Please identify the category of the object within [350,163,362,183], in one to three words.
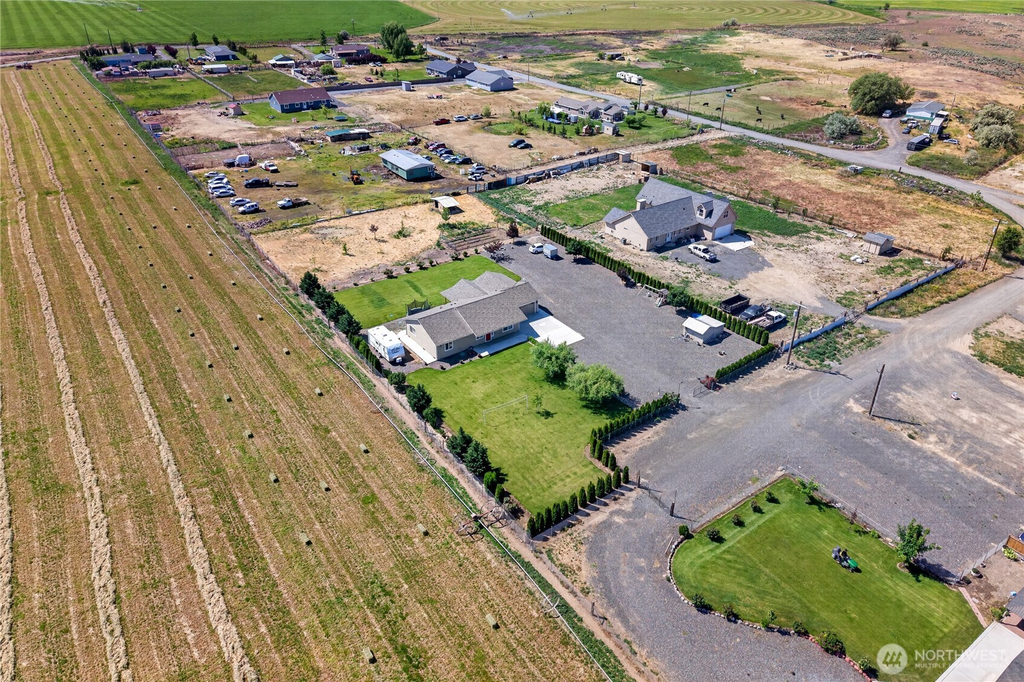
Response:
vehicle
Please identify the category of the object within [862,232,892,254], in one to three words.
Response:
shed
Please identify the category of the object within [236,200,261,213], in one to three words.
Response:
vehicle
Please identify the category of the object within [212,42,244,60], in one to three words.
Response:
house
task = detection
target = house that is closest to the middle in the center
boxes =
[397,271,546,360]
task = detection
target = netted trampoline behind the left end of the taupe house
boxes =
[404,291,430,312]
